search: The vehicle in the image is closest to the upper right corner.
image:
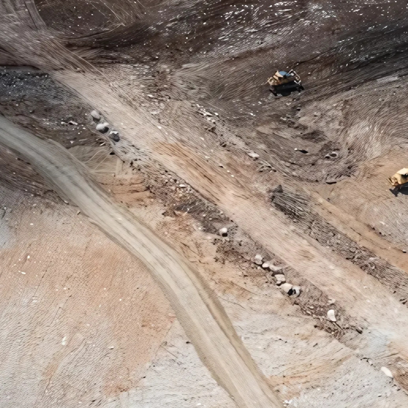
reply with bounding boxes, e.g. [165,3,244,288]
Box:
[269,71,303,94]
